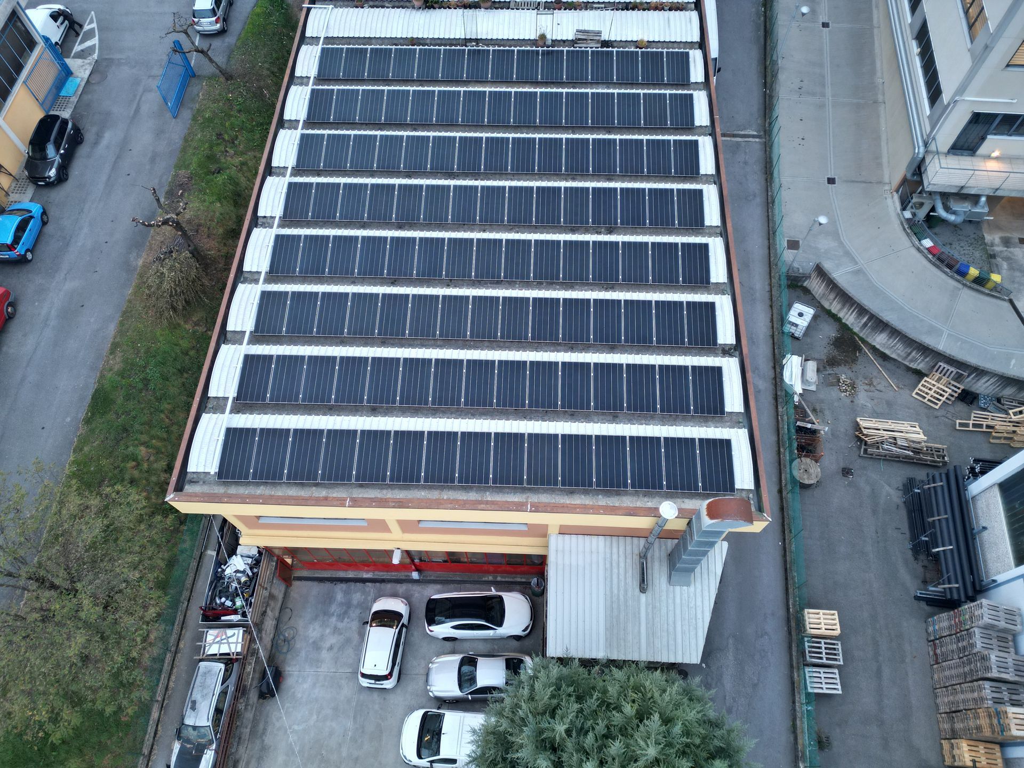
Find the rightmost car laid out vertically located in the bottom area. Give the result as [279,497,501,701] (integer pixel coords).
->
[356,596,408,690]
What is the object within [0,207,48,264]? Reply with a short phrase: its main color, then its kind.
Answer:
blue car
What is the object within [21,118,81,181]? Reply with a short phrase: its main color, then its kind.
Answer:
black car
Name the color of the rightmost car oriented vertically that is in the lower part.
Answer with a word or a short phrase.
white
